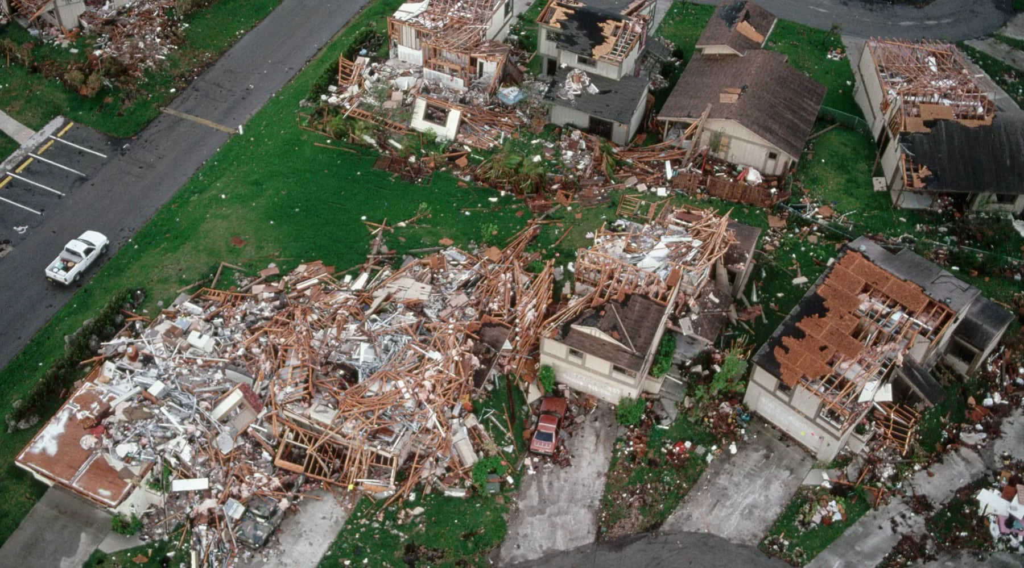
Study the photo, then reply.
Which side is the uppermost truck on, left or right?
left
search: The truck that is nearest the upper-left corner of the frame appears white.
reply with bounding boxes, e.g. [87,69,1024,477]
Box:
[41,234,108,288]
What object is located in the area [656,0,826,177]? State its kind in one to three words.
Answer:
house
